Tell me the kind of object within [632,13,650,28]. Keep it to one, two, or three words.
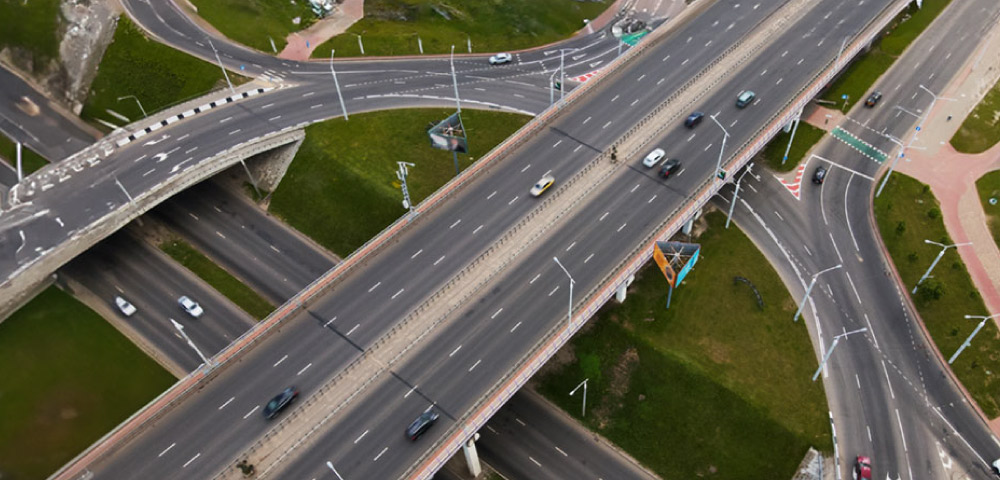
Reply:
car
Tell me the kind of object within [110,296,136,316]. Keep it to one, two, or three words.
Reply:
car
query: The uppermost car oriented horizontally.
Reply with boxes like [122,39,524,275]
[488,52,513,64]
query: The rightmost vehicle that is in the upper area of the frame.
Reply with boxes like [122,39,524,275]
[864,90,883,105]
